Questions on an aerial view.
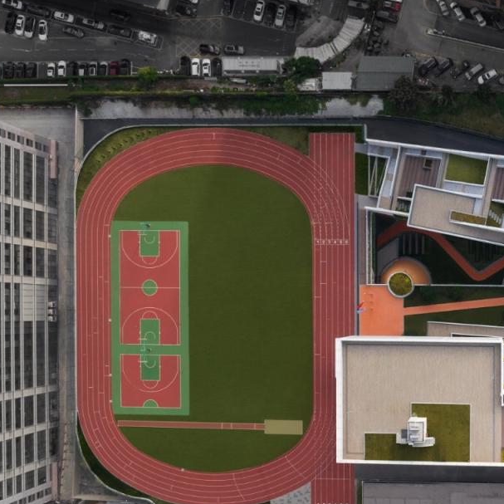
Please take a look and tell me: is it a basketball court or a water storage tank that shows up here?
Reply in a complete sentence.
Looking from above, you can make out a basketball court.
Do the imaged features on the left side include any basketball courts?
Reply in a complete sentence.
Yes, I can see a basketball court on the left side.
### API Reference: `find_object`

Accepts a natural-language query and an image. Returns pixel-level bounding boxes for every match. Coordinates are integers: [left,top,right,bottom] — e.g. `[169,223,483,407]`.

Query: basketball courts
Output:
[112,350,189,415]
[112,221,189,350]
